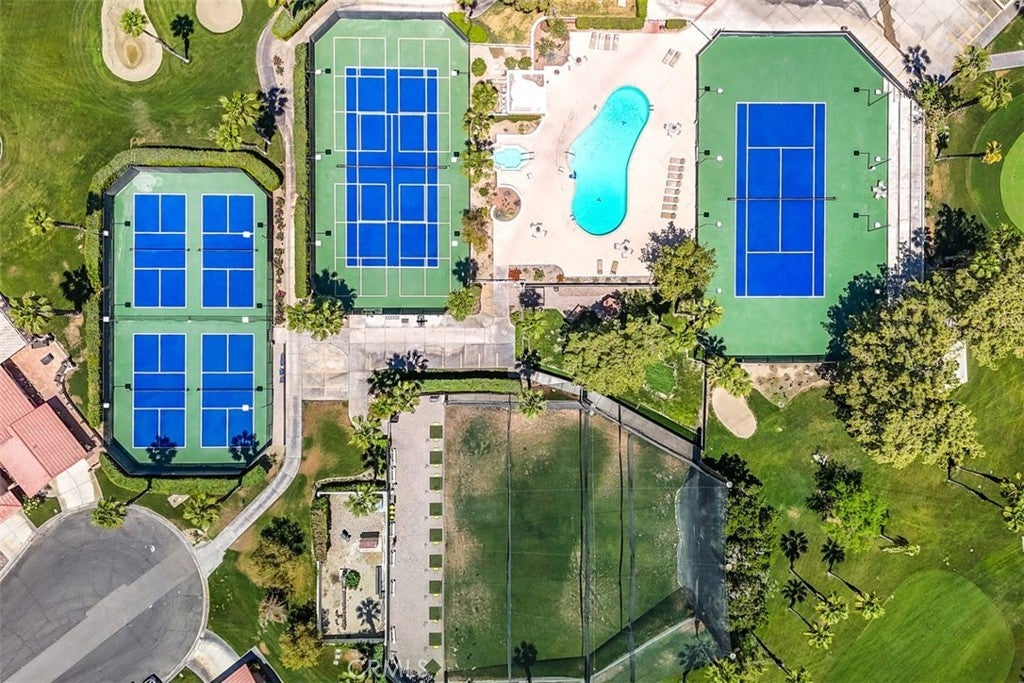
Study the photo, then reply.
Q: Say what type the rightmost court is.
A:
tennis court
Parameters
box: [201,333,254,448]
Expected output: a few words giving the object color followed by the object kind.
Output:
blue sports court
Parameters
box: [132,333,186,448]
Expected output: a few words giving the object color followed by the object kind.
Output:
blue sports court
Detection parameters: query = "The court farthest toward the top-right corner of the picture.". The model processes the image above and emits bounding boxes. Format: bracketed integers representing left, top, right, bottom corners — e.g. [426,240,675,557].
[698,34,889,358]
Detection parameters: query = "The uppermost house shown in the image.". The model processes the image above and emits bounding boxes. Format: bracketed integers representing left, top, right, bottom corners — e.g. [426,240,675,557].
[0,307,34,364]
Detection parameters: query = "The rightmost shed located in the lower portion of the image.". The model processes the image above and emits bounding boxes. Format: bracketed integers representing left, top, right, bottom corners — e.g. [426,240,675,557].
[356,536,379,553]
